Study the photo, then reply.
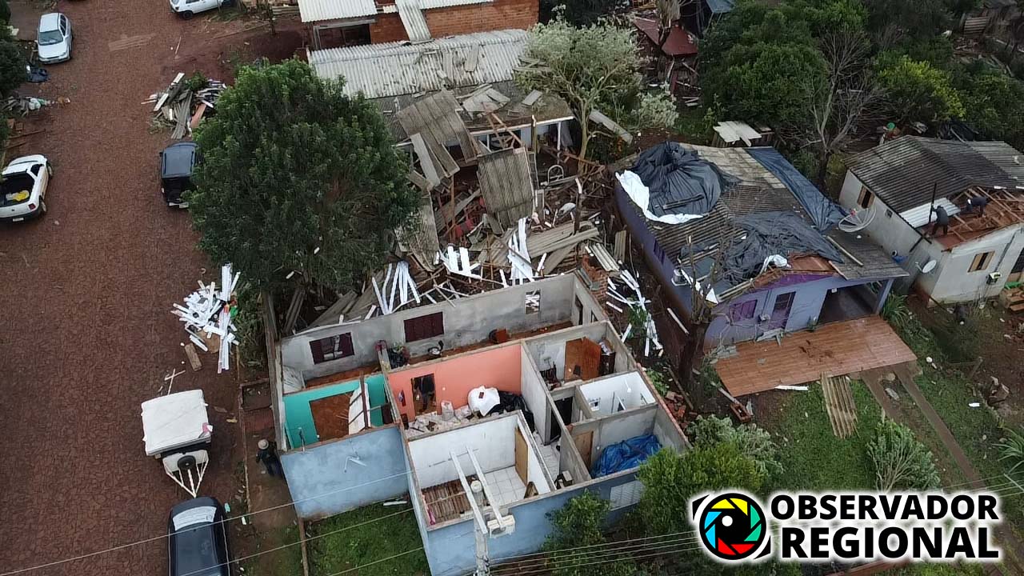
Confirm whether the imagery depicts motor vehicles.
Yes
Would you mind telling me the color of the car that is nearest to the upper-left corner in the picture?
white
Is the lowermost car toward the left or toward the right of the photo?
left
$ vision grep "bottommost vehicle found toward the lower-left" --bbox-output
[165,486,235,576]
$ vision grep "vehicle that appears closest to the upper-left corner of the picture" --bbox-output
[29,15,72,60]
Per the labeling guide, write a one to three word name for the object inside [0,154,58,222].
truck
